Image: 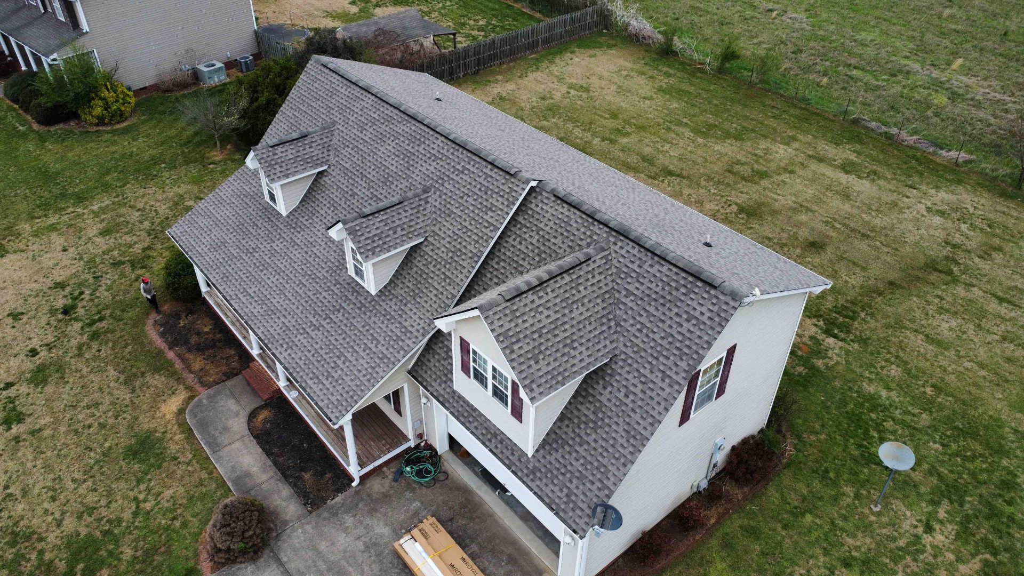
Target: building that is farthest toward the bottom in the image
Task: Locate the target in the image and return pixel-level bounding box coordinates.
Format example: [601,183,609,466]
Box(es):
[165,53,833,576]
